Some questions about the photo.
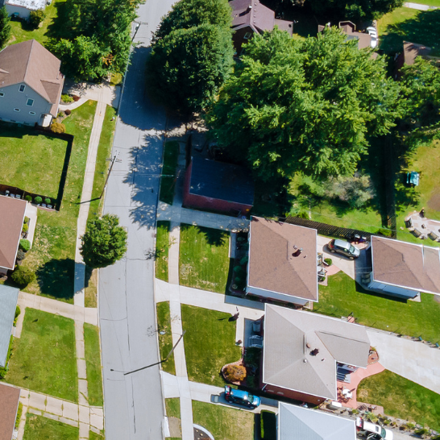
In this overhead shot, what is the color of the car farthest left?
blue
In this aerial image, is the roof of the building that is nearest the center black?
Yes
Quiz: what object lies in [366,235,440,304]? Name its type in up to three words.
house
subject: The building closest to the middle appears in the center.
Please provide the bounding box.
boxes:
[184,156,257,217]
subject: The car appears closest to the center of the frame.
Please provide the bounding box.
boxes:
[328,234,362,257]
